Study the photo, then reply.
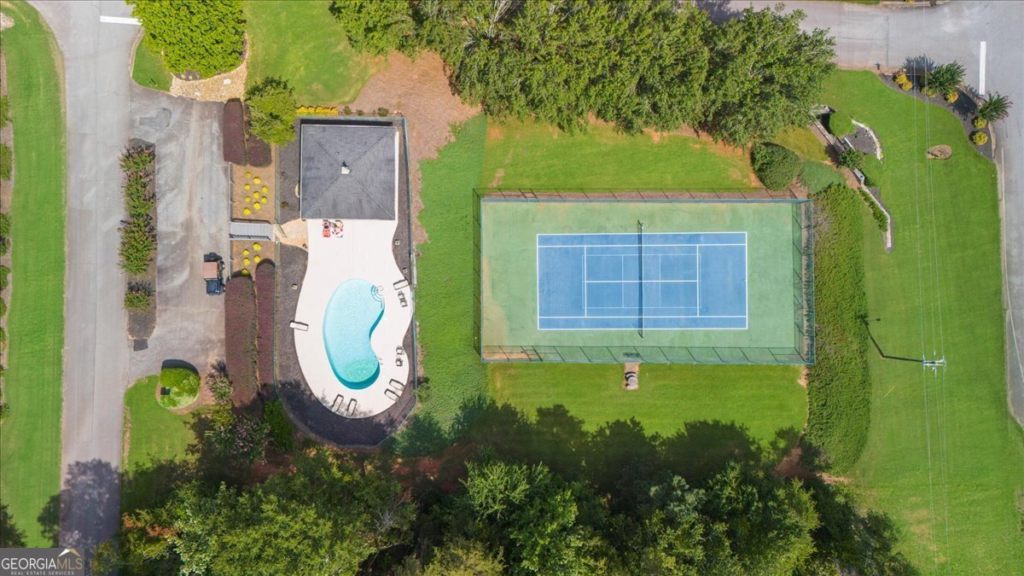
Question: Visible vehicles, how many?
1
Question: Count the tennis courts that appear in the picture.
1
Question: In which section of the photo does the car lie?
left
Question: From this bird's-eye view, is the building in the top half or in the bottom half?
top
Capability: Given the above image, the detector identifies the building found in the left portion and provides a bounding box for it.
[300,124,397,221]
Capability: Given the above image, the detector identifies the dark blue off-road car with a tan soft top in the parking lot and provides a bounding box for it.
[206,259,229,297]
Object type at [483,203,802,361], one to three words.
tennis court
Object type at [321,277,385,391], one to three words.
swimming pool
